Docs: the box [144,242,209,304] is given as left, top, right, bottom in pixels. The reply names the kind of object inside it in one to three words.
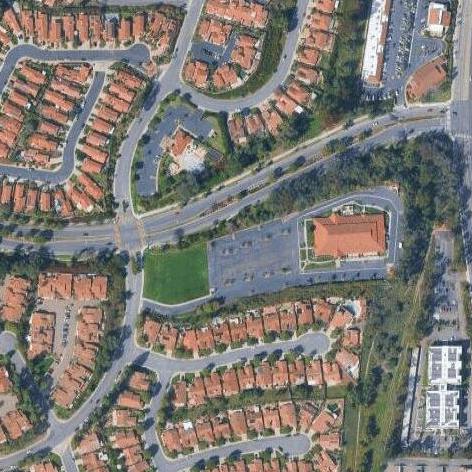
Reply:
sports field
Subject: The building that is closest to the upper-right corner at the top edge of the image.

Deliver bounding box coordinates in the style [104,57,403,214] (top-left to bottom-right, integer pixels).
[430,3,451,30]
